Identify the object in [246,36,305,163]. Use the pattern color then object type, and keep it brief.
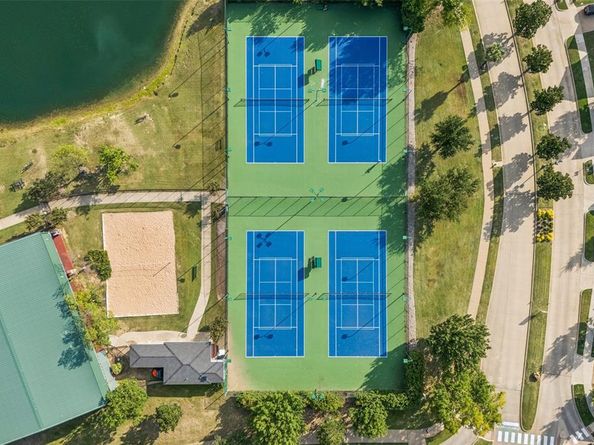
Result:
blue tennis court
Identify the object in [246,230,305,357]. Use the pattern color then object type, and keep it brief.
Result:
blue tennis court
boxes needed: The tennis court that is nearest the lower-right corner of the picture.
[328,230,387,357]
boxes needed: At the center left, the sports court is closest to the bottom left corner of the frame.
[102,211,178,317]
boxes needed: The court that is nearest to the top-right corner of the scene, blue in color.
[328,36,387,163]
